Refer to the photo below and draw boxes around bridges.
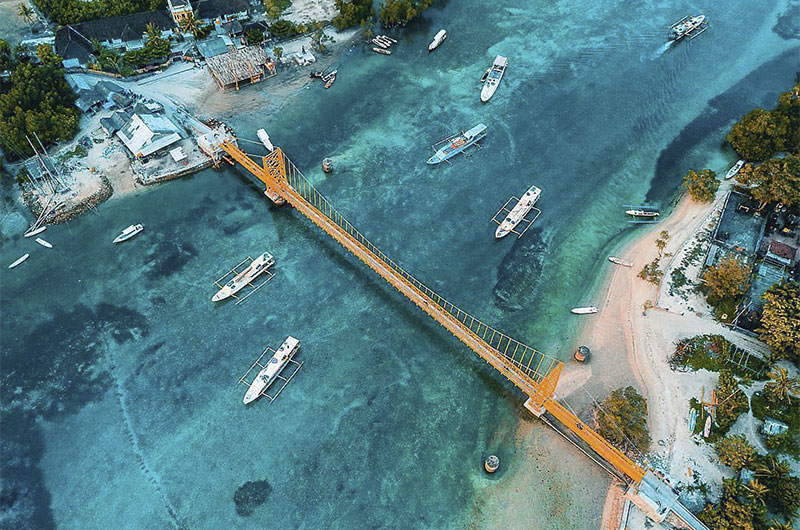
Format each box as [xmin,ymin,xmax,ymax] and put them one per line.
[212,136,651,482]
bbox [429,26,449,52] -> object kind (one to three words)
boat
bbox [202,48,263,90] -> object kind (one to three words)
building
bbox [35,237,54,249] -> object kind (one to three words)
boat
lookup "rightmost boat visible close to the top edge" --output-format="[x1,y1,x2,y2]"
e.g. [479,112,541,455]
[662,14,718,42]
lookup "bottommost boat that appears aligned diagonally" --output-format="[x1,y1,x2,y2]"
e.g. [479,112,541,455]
[232,332,309,409]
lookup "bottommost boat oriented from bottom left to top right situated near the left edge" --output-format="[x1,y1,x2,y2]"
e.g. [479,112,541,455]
[8,252,30,268]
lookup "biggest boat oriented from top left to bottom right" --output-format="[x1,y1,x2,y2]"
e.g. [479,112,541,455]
[255,125,276,155]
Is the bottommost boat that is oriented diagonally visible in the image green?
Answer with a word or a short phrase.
No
